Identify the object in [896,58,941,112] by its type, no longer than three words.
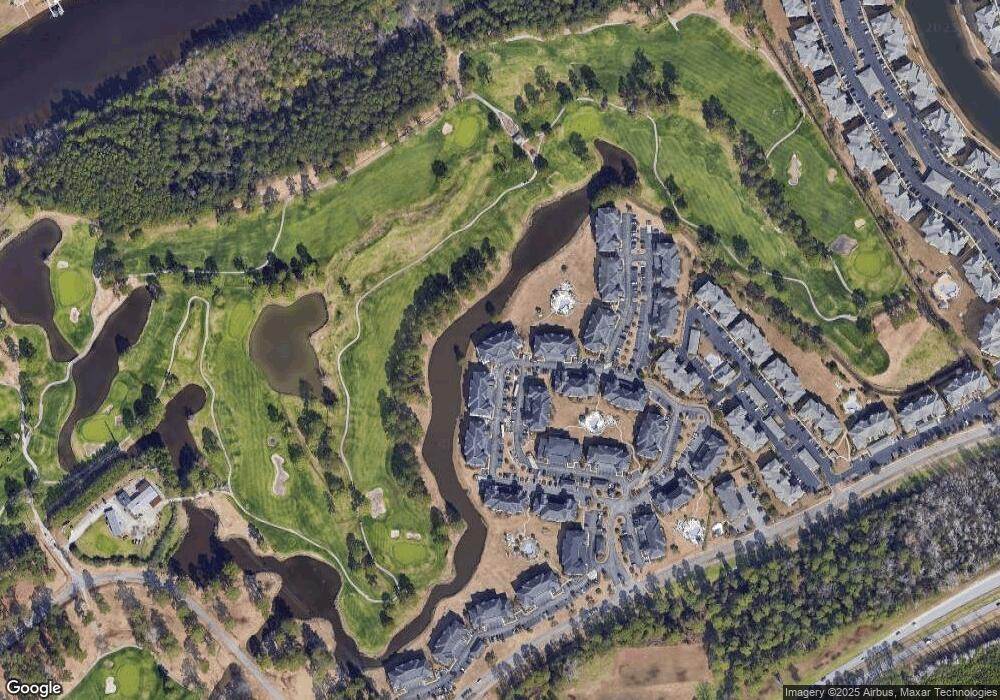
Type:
building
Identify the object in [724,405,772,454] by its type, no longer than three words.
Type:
building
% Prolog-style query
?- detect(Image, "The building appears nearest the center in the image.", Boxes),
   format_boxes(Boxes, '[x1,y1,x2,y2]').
[474,326,524,368]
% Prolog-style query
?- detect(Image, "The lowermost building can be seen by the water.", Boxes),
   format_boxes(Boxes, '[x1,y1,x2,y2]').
[386,656,438,697]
